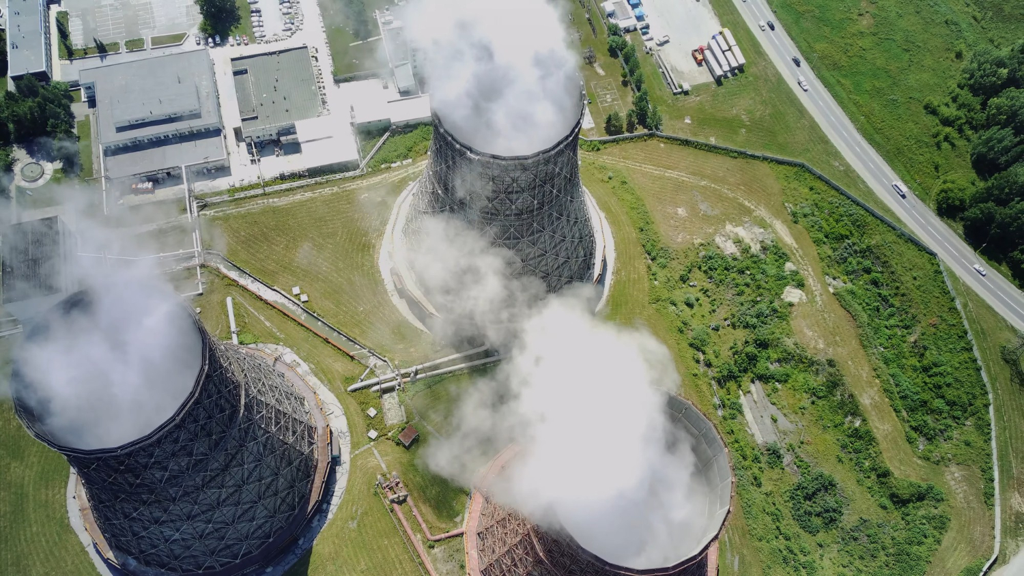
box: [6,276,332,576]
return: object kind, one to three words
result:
cooling tower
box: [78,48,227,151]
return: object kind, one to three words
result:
building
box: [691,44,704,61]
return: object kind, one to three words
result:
vehicle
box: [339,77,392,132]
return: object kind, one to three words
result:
shed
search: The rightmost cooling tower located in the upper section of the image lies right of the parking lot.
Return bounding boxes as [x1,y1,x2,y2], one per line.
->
[394,37,604,340]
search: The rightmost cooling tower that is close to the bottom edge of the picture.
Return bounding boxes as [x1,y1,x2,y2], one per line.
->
[466,379,738,576]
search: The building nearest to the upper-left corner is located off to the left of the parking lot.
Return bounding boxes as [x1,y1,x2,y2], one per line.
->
[6,0,52,86]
